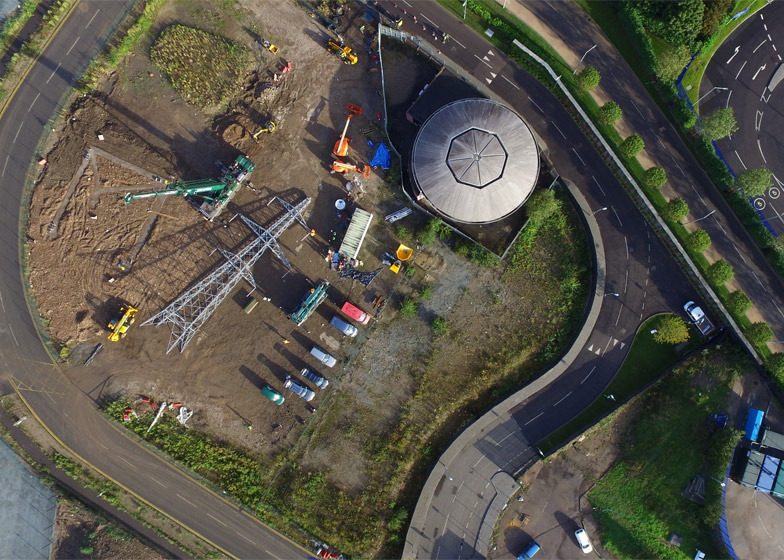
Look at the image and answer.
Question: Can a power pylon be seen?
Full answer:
Yes, there's a power pylon down there.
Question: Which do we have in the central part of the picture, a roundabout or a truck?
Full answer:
The feature located in the central part of the picture is a truck.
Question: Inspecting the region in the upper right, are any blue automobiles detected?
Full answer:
No, in the upper right there is no blue automobile.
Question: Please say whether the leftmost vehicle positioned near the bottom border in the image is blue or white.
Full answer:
The leftmost vehicle positioned near the bottom border is blue.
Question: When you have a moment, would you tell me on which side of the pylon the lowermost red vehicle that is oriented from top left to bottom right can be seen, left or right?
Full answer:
The lowermost red vehicle that is oriented from top left to bottom right is to the right of the pylon.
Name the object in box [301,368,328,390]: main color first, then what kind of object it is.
blue car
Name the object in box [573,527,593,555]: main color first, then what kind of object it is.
white car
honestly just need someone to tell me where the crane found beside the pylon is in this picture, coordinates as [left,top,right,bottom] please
[120,159,258,232]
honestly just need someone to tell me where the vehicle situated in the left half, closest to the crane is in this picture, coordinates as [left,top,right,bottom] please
[254,121,277,139]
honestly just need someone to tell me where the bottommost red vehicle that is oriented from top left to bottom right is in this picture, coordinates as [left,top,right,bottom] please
[341,301,370,323]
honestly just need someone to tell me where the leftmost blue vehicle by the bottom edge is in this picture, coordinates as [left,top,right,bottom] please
[515,536,544,560]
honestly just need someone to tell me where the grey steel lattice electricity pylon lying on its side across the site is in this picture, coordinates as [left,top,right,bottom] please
[135,195,312,356]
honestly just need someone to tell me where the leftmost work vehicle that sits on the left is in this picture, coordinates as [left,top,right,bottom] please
[109,301,138,339]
